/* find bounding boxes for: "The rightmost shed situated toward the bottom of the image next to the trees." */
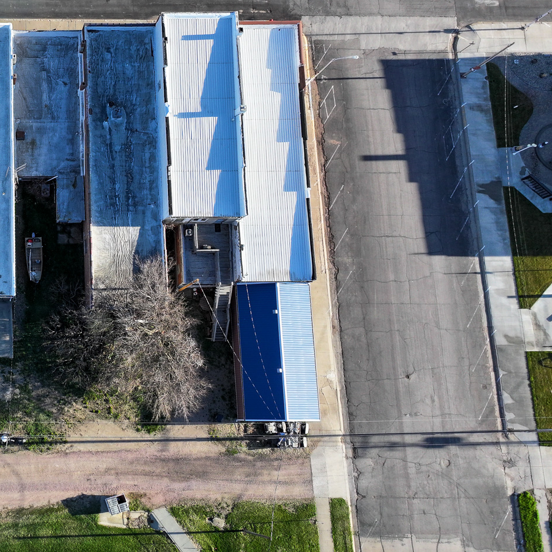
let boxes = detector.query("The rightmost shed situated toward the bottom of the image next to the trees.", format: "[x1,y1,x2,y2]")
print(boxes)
[224,282,321,422]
